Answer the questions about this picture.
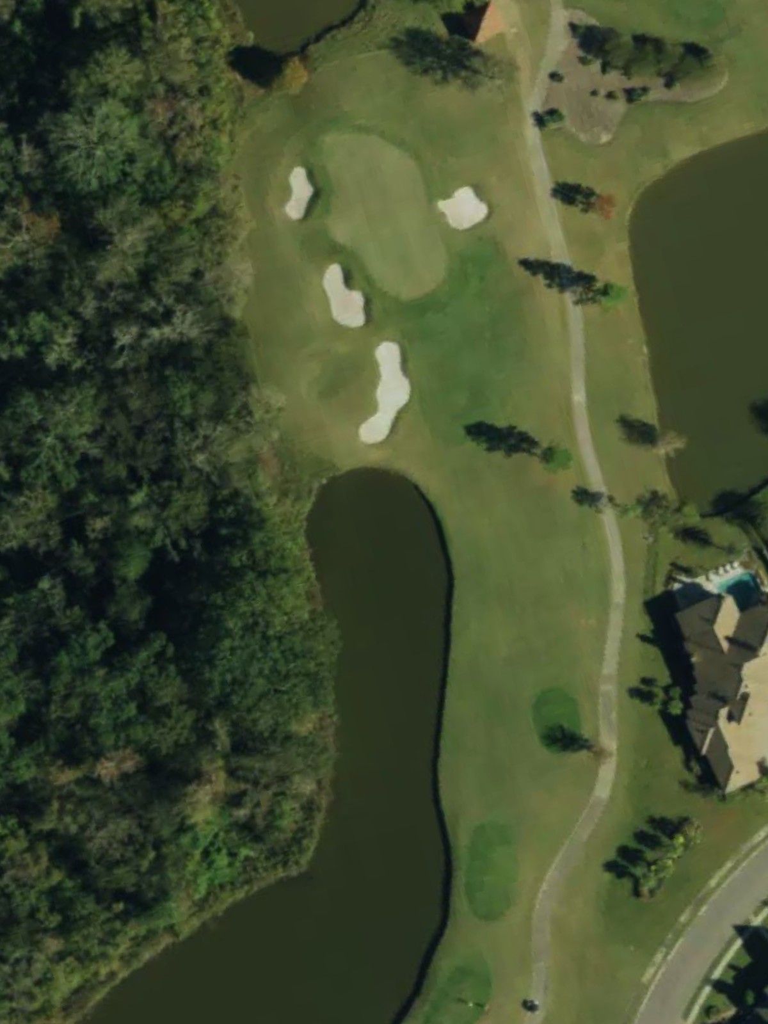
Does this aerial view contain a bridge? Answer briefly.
No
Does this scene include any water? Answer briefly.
Yes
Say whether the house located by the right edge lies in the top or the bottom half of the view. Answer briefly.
bottom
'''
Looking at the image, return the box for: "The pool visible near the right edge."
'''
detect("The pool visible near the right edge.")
[716,571,762,608]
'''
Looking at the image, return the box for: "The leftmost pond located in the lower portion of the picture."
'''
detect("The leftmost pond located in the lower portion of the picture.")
[82,468,450,1024]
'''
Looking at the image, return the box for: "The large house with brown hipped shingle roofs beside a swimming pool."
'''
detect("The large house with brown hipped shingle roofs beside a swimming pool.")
[676,592,768,794]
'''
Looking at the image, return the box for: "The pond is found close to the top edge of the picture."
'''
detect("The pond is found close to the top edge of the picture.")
[234,0,364,56]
